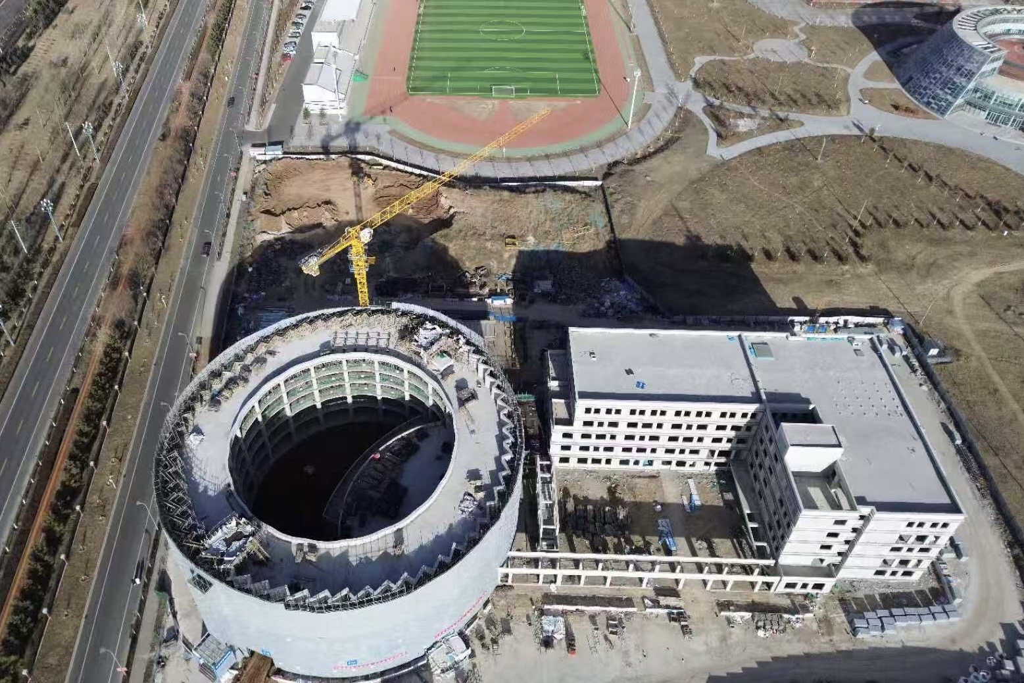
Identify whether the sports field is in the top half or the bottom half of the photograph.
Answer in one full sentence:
The sports field is in the top half of the image.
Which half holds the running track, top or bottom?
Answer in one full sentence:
It is in the top half that the running track appears.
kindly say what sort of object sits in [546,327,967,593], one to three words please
building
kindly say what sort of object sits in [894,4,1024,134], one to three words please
building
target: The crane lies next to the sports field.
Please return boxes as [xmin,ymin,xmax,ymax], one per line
[290,105,553,305]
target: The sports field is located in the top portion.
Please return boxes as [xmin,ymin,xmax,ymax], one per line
[403,0,604,97]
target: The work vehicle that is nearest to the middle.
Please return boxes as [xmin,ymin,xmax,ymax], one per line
[502,233,521,245]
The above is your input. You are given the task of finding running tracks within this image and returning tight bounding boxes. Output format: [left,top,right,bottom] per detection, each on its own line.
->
[350,0,648,157]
